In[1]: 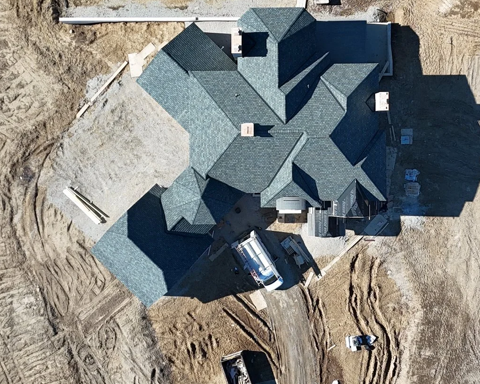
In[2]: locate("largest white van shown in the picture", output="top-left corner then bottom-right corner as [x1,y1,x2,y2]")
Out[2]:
[230,226,282,289]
